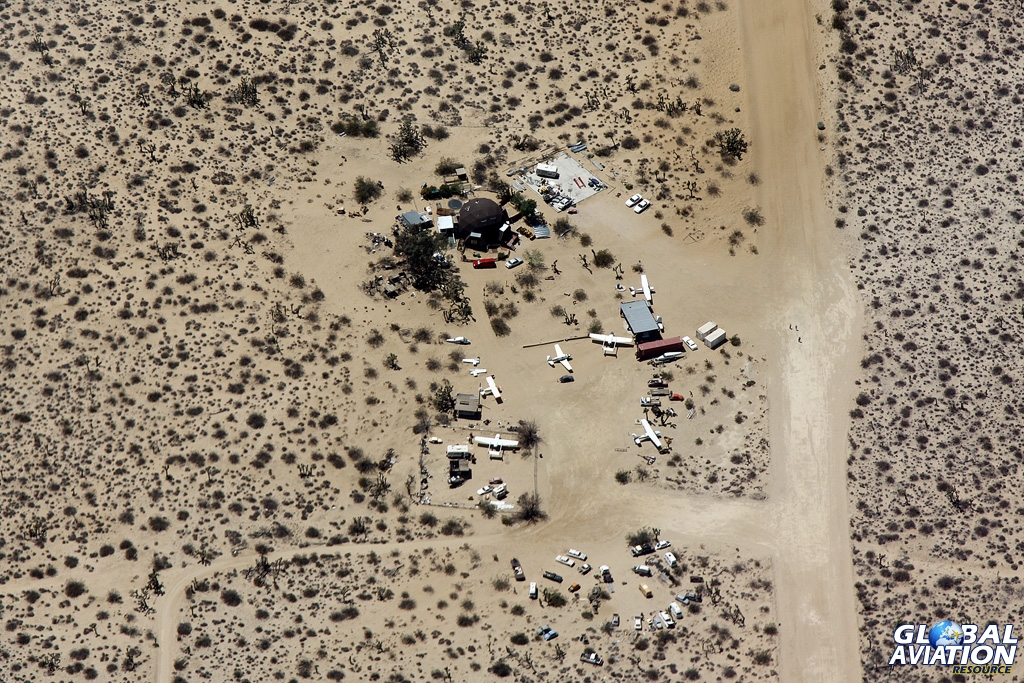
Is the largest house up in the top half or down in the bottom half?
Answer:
top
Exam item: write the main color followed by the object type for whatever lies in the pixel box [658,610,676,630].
white camper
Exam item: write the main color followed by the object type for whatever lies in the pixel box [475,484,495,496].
white vehicle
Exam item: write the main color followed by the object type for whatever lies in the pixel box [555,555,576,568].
white vehicle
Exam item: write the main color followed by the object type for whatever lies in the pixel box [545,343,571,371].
white airplane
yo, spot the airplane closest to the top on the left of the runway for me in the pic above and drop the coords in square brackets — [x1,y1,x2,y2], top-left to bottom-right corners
[626,274,654,302]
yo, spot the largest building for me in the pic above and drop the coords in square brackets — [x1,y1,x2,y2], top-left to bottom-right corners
[457,197,510,247]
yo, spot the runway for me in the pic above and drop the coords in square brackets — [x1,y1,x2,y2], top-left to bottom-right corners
[737,0,866,683]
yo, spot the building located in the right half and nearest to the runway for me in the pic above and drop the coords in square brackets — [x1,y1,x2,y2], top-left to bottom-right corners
[621,300,659,340]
